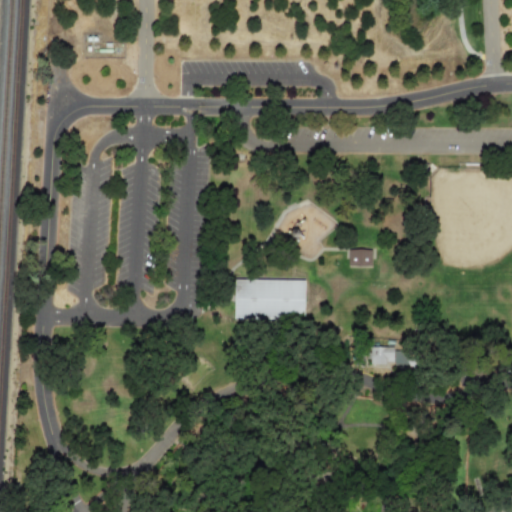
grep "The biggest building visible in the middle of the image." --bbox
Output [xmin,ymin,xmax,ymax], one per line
[232,280,306,321]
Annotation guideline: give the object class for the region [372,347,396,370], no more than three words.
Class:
house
